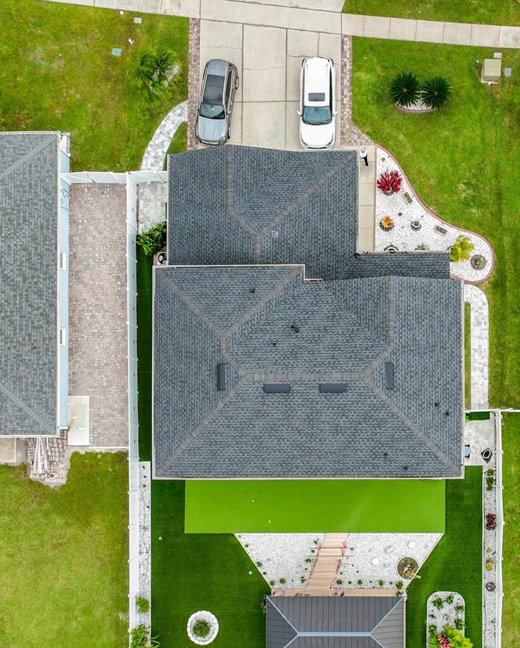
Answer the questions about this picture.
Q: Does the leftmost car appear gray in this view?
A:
Yes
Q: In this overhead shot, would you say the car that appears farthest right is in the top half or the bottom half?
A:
top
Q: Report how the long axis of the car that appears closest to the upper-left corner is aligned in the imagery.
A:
from top to bottom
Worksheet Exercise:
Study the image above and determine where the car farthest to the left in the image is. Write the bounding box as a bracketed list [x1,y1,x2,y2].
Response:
[193,57,240,147]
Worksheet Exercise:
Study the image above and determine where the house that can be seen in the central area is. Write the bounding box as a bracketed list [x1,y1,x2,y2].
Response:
[151,144,466,481]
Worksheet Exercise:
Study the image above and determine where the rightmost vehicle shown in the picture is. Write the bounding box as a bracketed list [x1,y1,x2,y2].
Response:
[295,57,341,146]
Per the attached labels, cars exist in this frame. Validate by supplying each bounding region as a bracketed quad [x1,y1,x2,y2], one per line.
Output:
[295,57,341,146]
[193,57,240,147]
